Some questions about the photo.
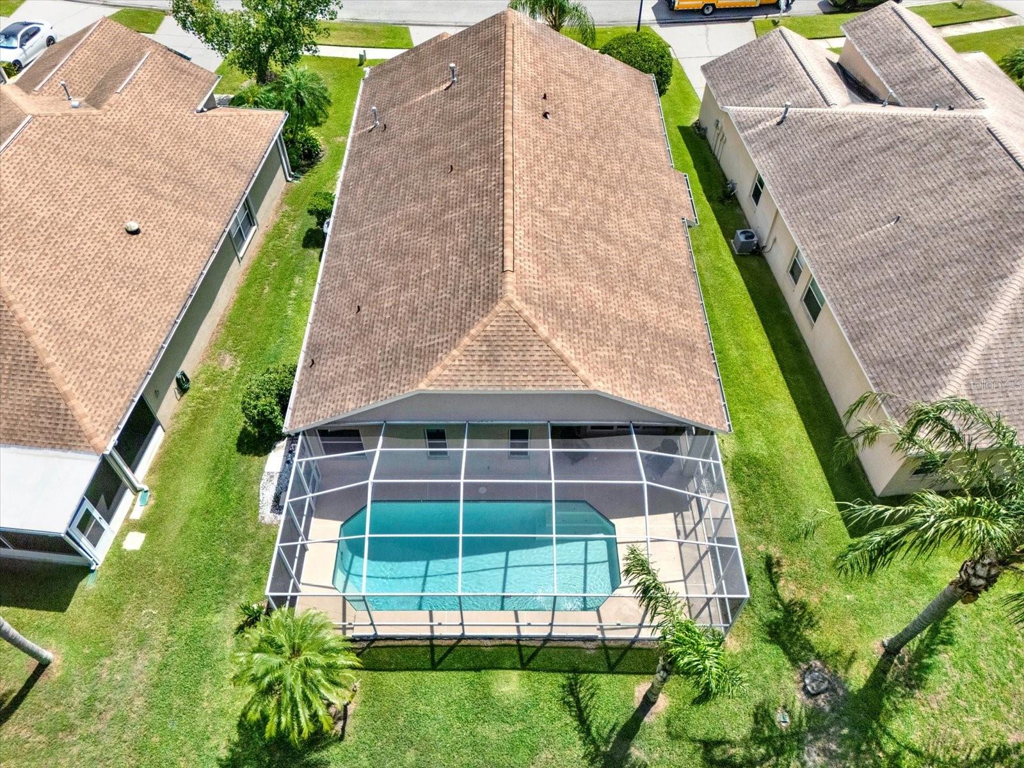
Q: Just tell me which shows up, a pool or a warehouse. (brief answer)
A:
pool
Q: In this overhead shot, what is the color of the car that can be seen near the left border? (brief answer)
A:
white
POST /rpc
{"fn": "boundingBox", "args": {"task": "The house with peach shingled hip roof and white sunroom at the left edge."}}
[0,17,298,582]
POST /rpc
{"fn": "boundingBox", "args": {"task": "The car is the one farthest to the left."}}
[0,18,58,64]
